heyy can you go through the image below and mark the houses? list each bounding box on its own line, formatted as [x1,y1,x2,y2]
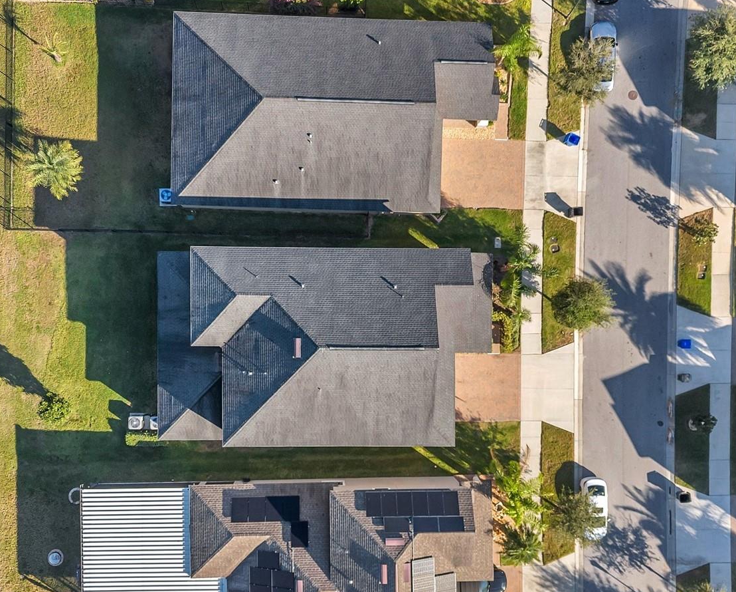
[157,245,494,448]
[188,475,493,592]
[170,10,498,215]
